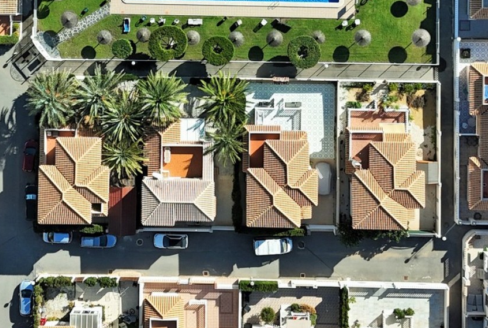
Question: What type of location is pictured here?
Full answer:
The picture captures a residential area.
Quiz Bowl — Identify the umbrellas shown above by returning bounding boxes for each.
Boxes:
[311,30,326,44]
[137,29,150,43]
[411,29,430,47]
[97,30,112,45]
[61,11,79,29]
[265,30,282,46]
[186,30,201,43]
[229,31,243,46]
[354,29,371,45]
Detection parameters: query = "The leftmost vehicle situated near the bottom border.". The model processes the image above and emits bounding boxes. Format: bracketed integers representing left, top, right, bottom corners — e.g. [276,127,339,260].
[18,278,36,316]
